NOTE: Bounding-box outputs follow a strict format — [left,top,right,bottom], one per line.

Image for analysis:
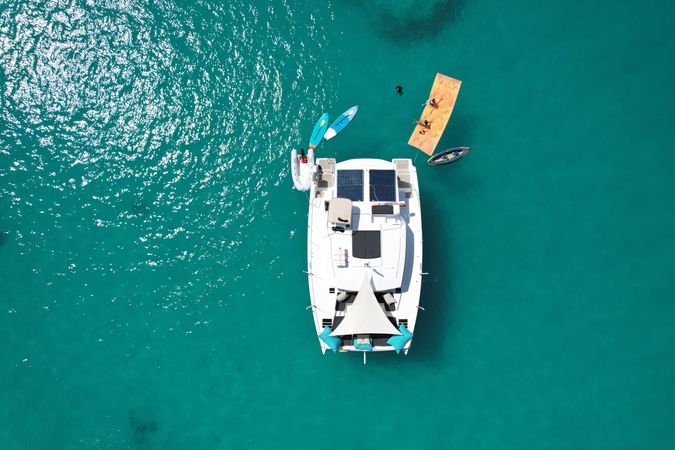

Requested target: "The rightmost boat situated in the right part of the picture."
[427,147,471,165]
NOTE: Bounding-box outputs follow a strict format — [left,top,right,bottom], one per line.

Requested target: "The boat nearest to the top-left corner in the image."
[291,148,314,190]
